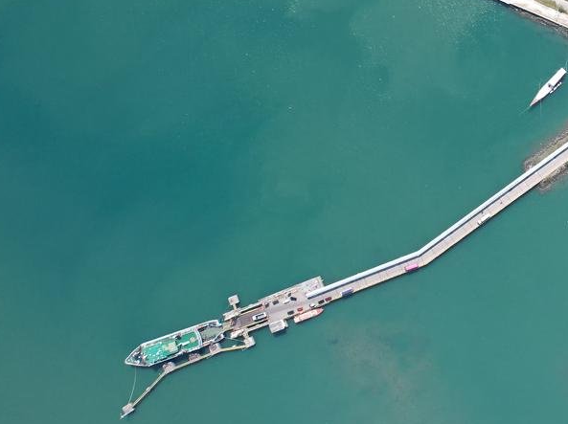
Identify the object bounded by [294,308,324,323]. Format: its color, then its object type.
white ship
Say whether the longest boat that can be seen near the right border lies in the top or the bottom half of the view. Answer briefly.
top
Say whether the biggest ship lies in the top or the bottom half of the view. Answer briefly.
bottom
